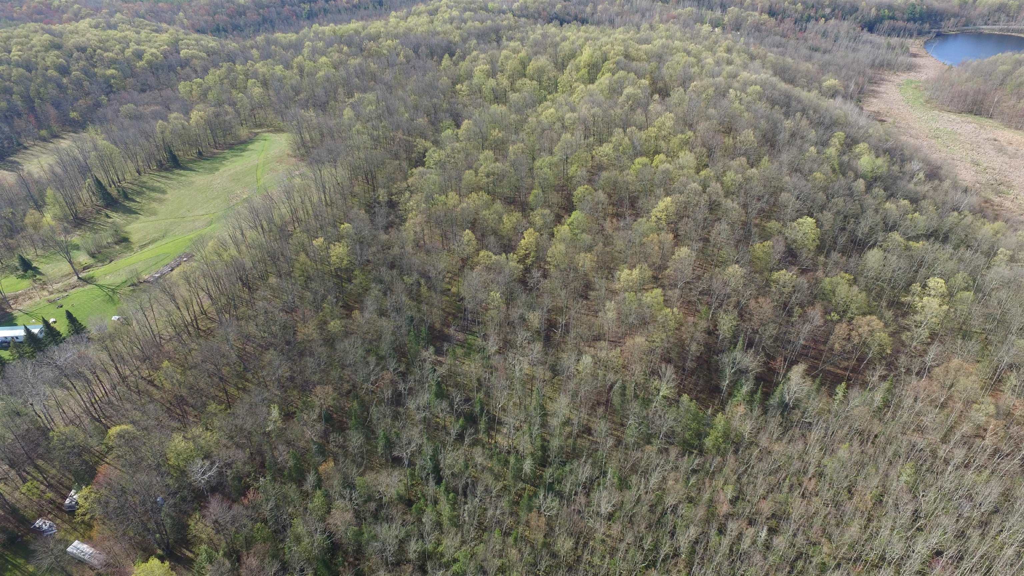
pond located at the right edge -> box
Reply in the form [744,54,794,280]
[925,32,1024,79]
